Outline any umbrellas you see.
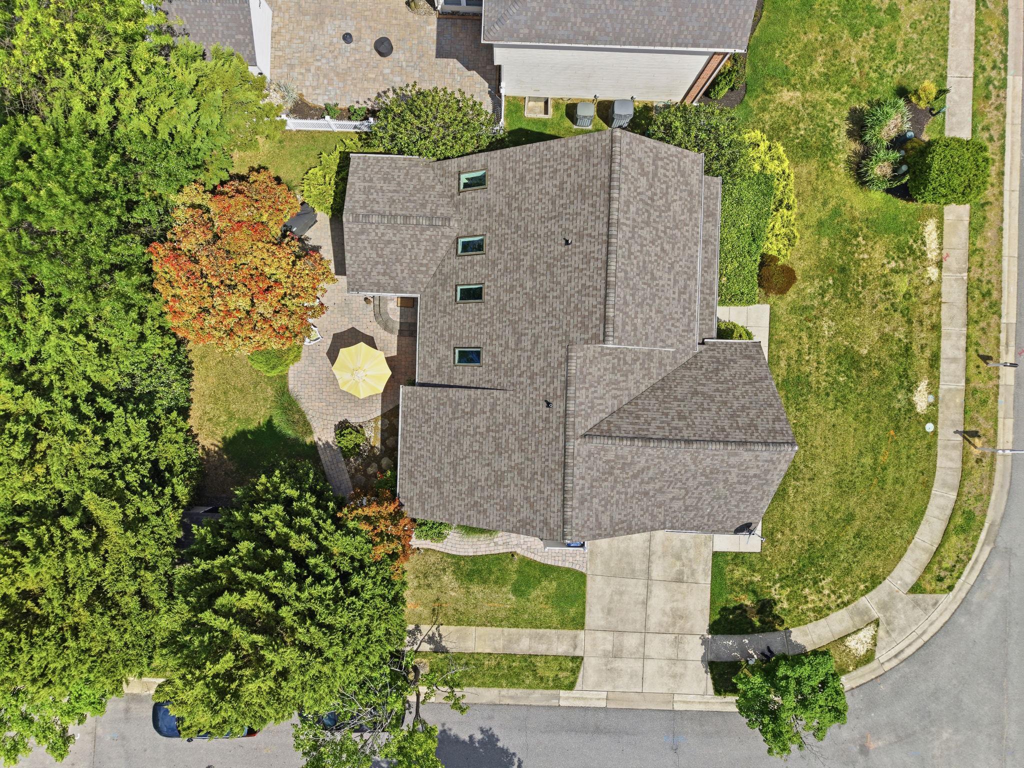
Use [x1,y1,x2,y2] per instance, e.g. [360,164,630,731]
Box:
[332,342,392,398]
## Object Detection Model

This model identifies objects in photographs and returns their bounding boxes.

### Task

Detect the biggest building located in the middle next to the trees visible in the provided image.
[343,129,797,557]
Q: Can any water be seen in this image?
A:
No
